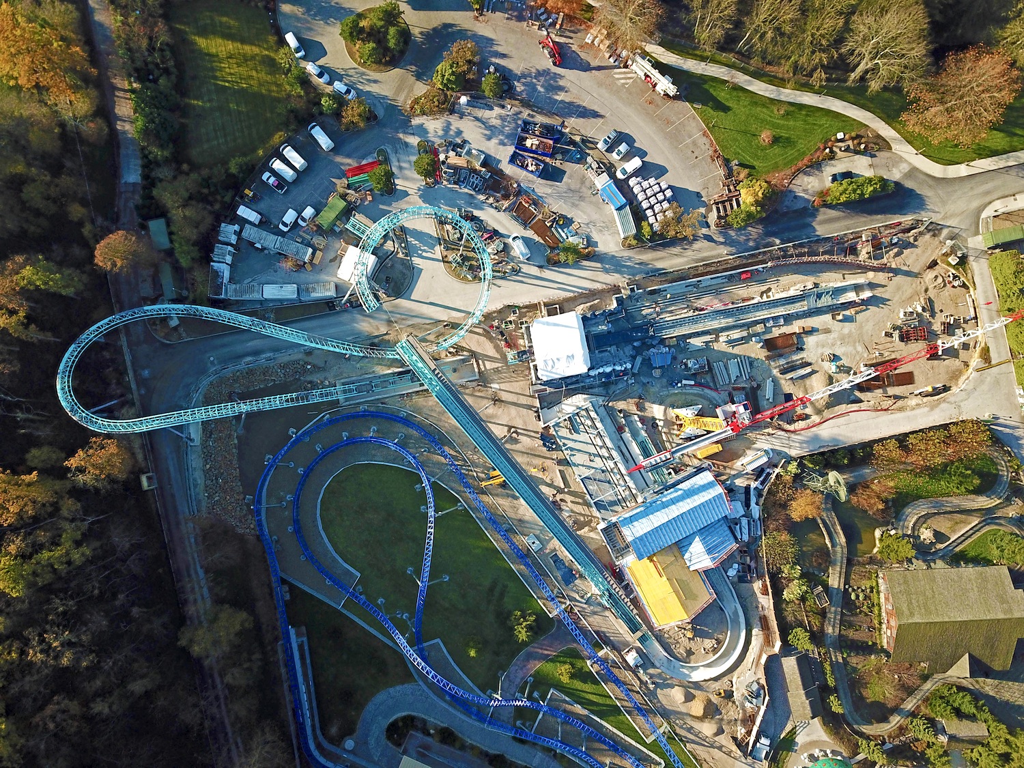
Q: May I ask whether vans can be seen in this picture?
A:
Yes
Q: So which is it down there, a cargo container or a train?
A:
cargo container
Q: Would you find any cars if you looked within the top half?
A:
Yes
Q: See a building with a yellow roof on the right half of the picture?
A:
Yes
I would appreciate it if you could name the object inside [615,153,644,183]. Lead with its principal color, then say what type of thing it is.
white van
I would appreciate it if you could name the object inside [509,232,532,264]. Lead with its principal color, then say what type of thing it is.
white vehicle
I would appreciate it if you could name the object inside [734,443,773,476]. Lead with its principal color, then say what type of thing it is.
white vehicle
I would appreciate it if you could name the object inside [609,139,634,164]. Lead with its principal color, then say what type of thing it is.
white car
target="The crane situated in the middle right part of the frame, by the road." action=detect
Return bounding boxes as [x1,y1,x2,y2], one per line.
[629,309,1024,475]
